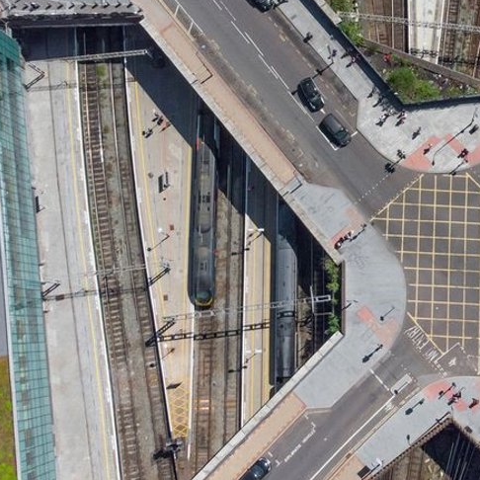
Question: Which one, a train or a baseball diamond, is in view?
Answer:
train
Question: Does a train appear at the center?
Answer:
Yes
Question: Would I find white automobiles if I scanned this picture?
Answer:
No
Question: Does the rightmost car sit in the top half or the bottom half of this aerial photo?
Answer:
top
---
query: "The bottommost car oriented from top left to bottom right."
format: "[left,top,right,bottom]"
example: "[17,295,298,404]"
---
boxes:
[320,113,352,150]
